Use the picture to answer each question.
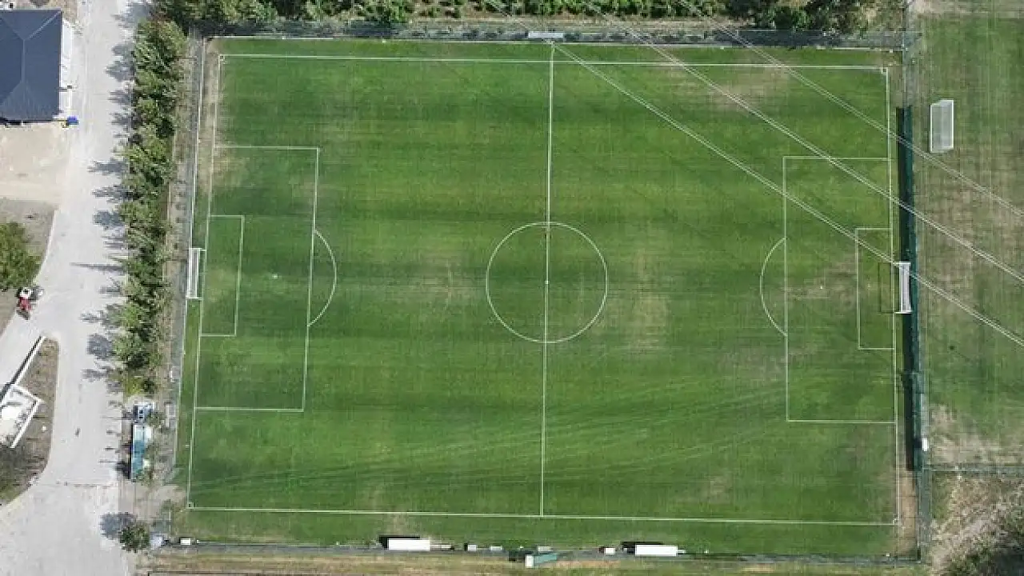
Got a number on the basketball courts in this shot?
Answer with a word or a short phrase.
none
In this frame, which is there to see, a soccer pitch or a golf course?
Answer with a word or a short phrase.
soccer pitch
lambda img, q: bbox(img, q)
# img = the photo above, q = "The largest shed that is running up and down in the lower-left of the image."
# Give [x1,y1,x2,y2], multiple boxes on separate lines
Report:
[129,423,159,479]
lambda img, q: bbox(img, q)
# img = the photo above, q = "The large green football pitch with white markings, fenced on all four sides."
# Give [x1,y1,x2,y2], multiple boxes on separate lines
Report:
[173,37,918,557]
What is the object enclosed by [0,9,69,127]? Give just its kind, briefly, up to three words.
house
